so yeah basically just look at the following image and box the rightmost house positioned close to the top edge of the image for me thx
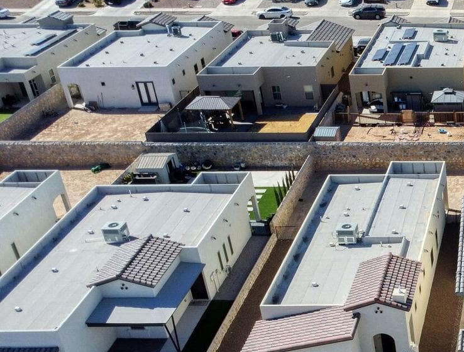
[349,12,464,114]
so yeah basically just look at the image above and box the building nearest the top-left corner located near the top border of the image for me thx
[0,4,121,106]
